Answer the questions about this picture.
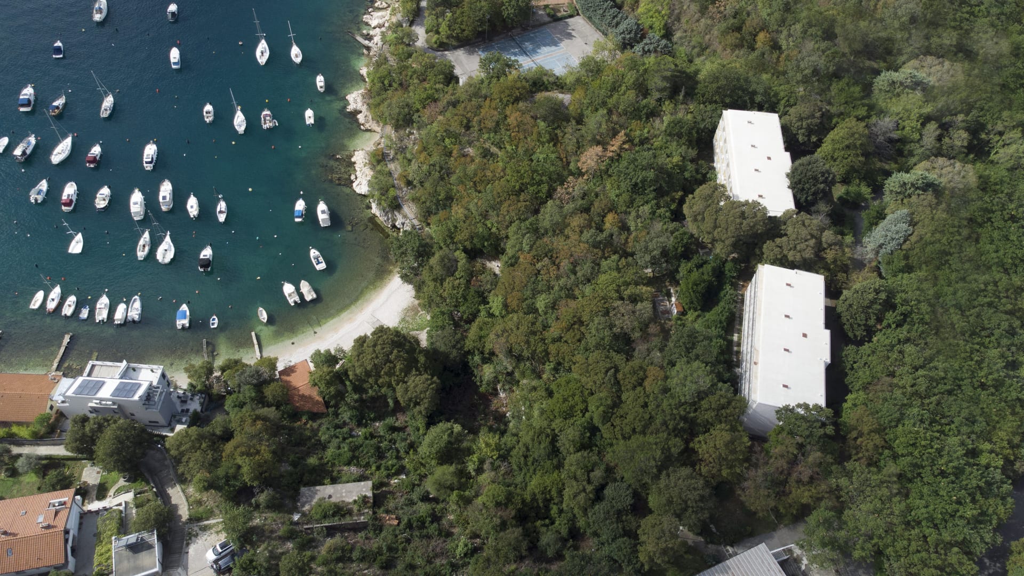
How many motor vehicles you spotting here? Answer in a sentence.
The number of motor vehicles here is 2.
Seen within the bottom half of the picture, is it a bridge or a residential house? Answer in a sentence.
What appears within the bottom half of the picture is a residential house.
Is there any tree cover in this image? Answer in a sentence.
Yes, the picture does contain tree cover.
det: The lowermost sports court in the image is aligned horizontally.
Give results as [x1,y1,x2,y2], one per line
[446,17,603,85]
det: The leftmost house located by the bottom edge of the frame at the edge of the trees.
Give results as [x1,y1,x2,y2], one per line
[0,489,91,576]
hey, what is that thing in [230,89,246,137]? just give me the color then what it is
white boat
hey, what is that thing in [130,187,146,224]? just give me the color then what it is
white boat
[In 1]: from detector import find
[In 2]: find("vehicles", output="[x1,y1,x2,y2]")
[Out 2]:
[206,535,239,558]
[211,546,239,571]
